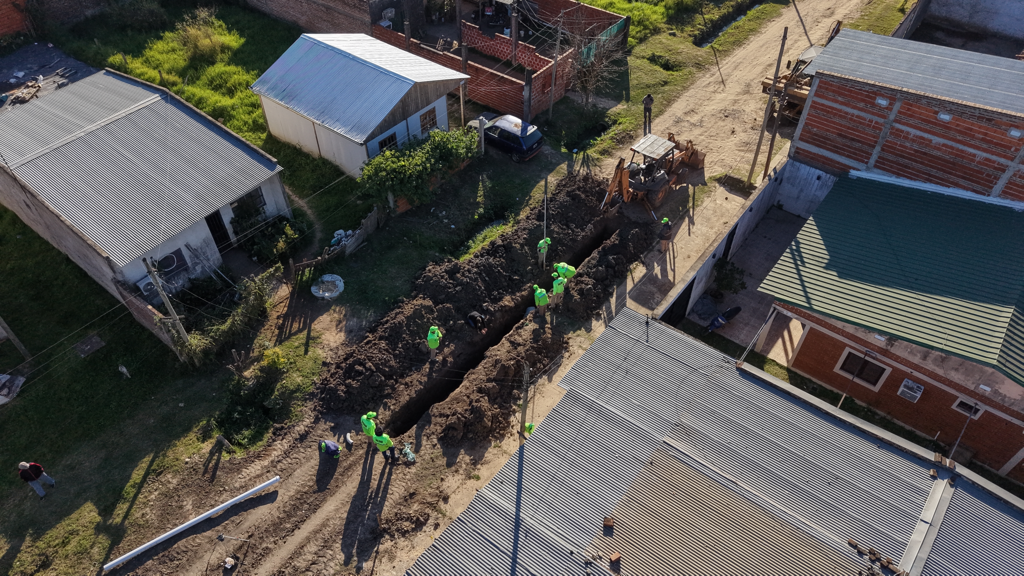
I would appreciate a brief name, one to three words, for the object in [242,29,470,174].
house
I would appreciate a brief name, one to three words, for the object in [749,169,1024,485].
house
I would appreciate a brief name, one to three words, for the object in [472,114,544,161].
car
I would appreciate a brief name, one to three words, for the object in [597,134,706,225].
work vehicle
